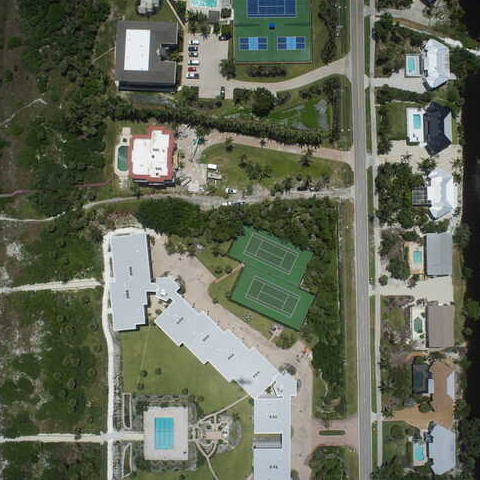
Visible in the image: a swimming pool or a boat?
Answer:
swimming pool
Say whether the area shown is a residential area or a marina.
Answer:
residential area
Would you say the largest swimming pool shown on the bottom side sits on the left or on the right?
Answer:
left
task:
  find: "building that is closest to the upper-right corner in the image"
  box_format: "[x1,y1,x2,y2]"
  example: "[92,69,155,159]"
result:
[423,39,450,88]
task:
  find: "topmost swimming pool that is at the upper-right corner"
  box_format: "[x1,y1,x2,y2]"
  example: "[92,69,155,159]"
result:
[405,54,420,76]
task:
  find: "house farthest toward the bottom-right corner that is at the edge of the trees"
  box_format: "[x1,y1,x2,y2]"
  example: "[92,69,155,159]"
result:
[429,423,456,474]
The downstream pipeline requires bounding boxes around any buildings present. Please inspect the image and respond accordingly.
[426,233,452,276]
[115,21,178,88]
[111,234,297,480]
[137,0,158,13]
[429,423,456,474]
[426,358,454,411]
[129,127,177,182]
[423,39,450,88]
[426,306,454,348]
[423,102,452,156]
[426,169,457,219]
